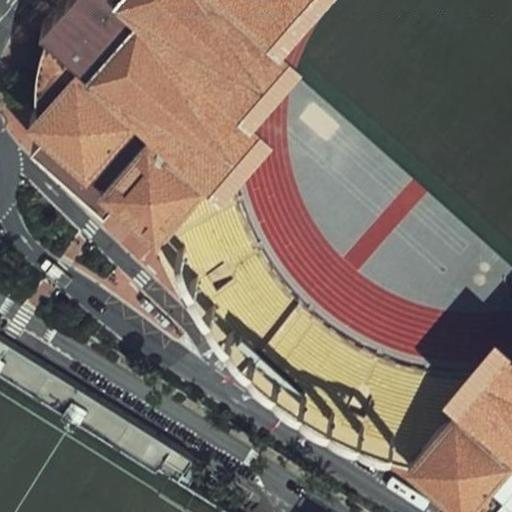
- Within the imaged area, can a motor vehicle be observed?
Yes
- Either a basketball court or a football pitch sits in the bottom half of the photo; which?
football pitch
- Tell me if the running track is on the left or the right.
right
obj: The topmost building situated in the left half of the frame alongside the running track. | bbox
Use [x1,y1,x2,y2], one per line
[28,0,338,248]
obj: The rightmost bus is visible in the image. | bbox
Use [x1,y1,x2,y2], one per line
[387,478,431,512]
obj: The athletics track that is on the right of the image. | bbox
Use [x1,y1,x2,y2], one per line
[240,32,512,366]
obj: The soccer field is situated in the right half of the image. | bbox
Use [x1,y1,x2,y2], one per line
[296,0,512,262]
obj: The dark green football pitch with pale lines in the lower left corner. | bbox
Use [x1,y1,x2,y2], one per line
[0,380,217,512]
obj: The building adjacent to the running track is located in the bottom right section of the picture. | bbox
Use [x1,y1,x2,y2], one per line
[405,346,512,512]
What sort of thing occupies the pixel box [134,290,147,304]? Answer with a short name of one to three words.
vehicle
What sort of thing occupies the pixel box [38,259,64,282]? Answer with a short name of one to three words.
truck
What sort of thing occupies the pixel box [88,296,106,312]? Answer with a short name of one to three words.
car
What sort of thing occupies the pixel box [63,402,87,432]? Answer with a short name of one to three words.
building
